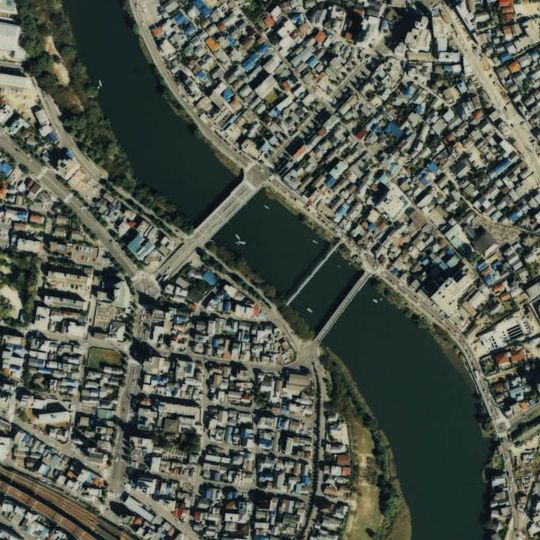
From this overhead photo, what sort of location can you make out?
residential area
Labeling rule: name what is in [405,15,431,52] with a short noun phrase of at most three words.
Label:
building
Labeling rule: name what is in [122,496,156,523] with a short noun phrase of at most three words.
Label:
building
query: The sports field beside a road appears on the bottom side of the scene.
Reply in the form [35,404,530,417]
[86,346,121,369]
